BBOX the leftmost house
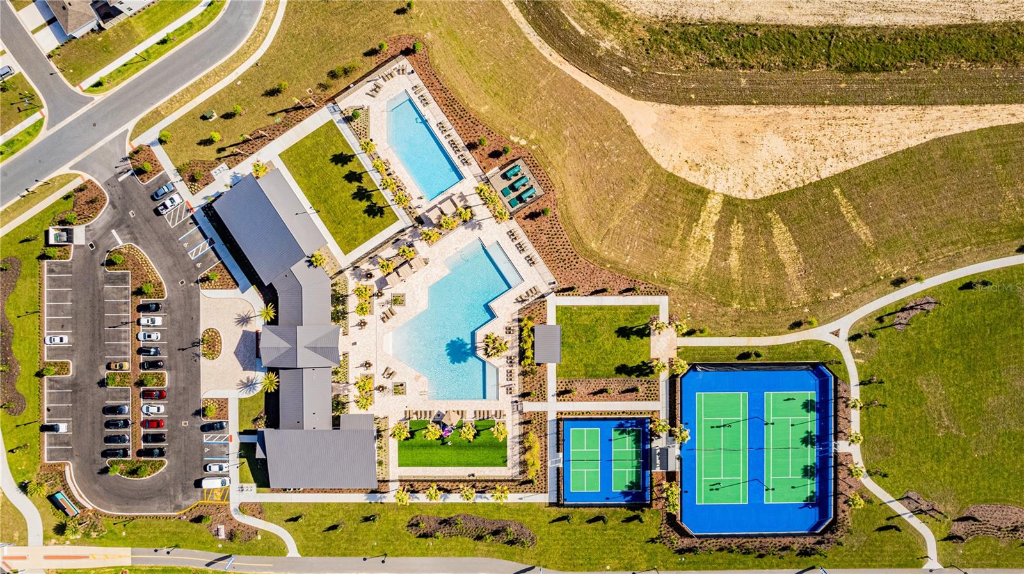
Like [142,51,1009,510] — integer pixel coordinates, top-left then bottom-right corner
[46,0,102,36]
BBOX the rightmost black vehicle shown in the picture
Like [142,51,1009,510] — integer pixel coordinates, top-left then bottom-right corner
[202,420,227,432]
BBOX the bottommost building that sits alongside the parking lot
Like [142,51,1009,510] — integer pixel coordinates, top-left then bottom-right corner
[212,168,378,489]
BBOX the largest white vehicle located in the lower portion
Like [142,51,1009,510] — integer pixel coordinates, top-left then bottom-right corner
[200,475,231,489]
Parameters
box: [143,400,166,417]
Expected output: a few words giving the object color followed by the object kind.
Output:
white car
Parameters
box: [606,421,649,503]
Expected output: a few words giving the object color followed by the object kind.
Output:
green sports court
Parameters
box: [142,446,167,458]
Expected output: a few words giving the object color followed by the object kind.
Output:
black vehicle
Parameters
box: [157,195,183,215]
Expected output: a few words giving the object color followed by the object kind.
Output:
white vehicle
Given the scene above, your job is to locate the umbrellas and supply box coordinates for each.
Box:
[443,408,461,426]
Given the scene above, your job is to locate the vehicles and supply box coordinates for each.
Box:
[138,331,161,341]
[109,361,132,371]
[200,475,231,489]
[142,389,166,400]
[0,64,16,80]
[207,462,230,473]
[46,335,69,345]
[153,182,176,200]
[104,448,131,459]
[106,419,130,430]
[45,423,69,433]
[139,346,163,357]
[140,316,164,327]
[138,302,162,313]
[142,419,165,429]
[202,420,227,432]
[157,195,183,215]
[143,433,167,444]
[106,434,130,444]
[141,359,165,370]
[142,446,167,458]
[143,400,166,417]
